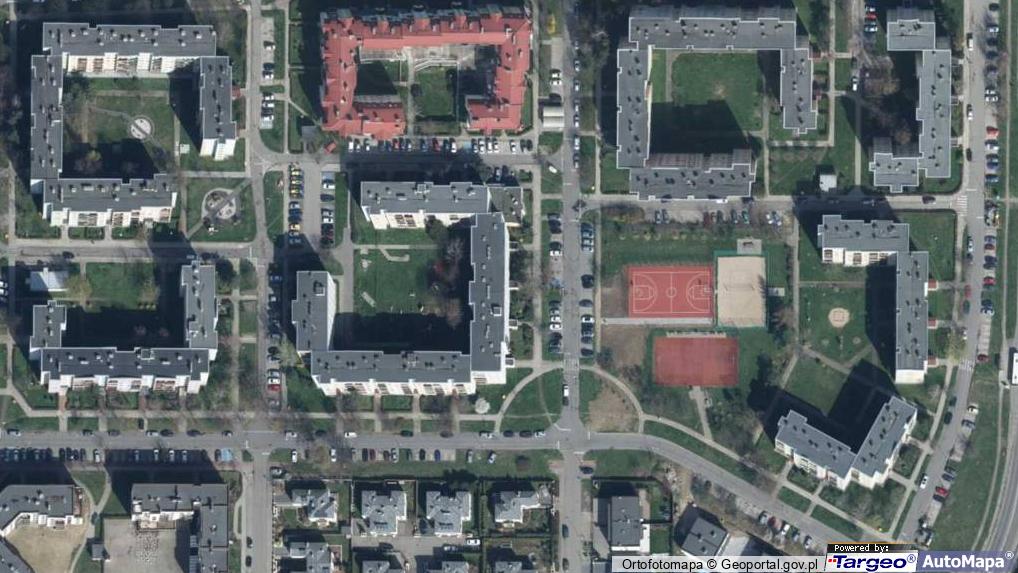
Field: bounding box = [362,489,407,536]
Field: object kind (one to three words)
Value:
house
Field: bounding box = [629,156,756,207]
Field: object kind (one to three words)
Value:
building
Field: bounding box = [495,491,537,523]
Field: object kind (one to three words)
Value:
house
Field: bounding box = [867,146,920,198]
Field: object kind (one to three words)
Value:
building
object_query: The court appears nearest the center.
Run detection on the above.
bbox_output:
[628,266,712,317]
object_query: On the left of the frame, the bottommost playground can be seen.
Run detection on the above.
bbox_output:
[202,186,242,223]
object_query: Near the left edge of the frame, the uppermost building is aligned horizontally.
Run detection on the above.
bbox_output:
[43,23,220,75]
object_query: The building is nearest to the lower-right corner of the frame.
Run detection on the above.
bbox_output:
[851,396,917,488]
